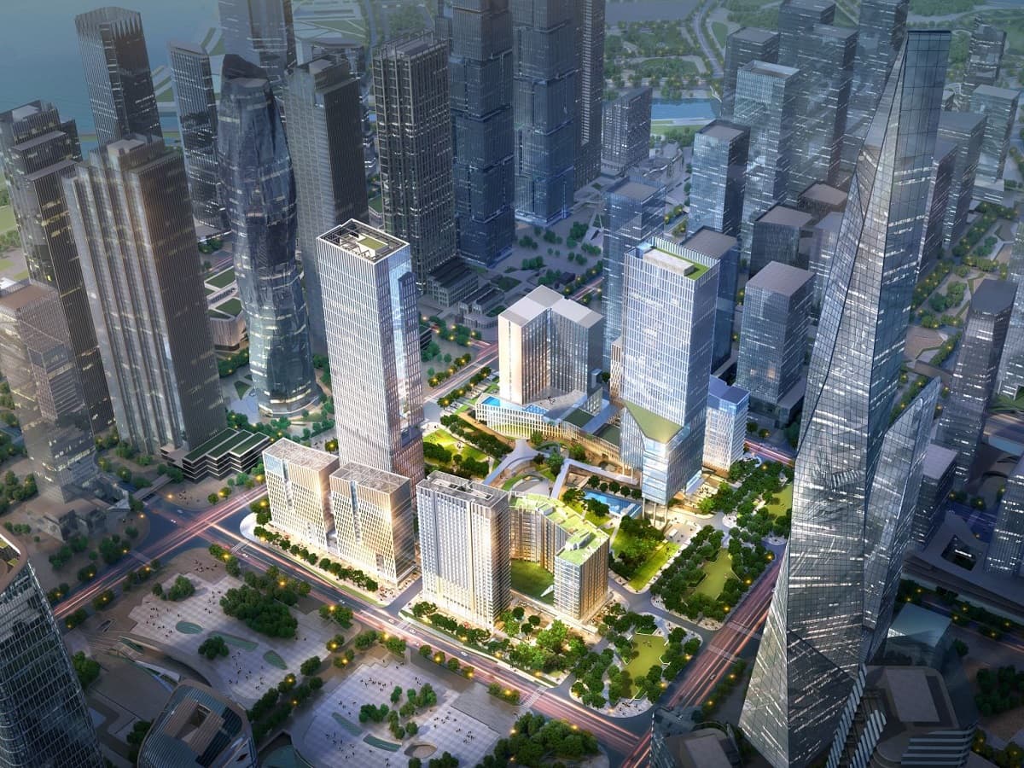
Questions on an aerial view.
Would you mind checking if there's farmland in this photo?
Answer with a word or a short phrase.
No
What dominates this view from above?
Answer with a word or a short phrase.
buildings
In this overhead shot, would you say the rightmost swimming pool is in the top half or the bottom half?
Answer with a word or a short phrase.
bottom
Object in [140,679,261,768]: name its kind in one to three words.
building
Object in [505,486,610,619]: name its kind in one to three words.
building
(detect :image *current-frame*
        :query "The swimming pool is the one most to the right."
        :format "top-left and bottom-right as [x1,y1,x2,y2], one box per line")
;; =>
[584,488,643,519]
